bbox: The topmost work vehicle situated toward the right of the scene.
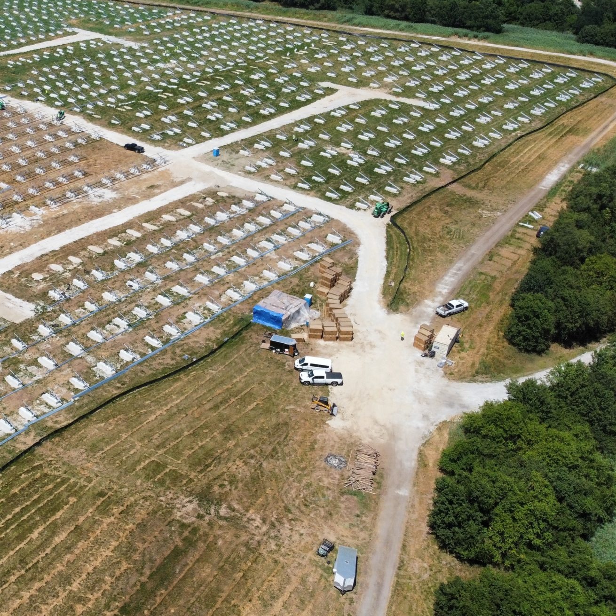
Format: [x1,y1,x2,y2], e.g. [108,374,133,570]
[370,199,396,216]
